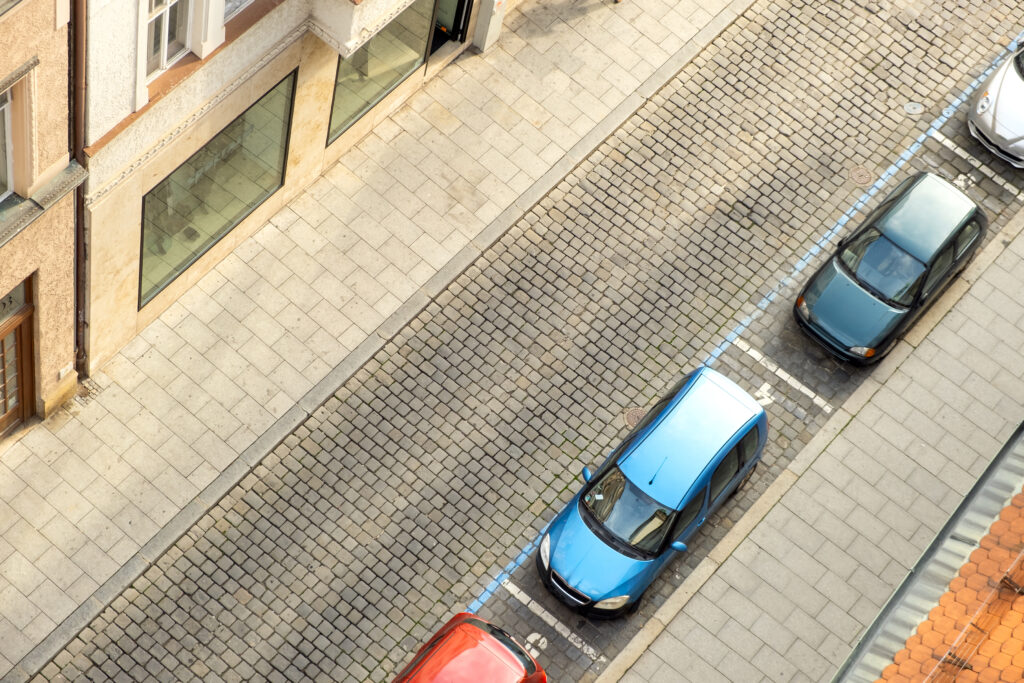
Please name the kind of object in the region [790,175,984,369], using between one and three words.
car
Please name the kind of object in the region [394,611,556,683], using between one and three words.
car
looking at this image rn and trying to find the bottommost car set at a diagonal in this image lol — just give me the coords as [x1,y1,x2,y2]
[535,367,778,620]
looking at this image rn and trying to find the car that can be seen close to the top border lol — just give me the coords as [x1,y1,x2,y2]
[959,32,1024,174]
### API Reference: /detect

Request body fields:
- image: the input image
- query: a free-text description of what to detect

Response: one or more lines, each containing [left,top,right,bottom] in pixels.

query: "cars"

[535,367,778,620]
[959,32,1024,174]
[790,175,984,369]
[394,611,556,683]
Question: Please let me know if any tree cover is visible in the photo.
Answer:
No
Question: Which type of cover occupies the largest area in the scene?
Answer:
paved ground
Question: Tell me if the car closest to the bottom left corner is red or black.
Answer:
red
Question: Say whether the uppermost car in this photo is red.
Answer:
No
